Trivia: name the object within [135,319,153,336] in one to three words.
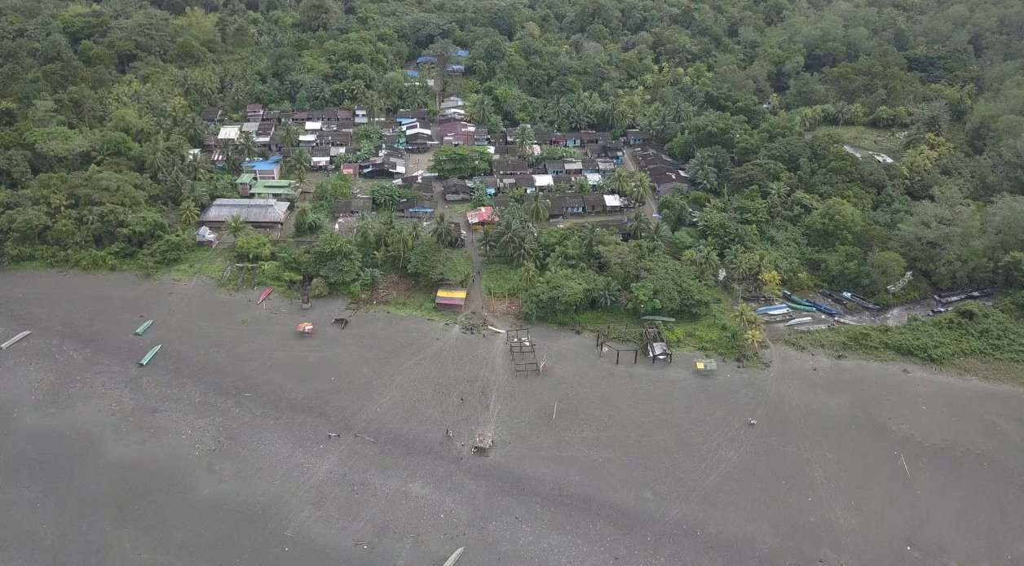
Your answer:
boat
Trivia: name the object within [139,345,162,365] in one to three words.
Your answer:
boat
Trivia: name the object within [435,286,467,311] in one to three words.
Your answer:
shed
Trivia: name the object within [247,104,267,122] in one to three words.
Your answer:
house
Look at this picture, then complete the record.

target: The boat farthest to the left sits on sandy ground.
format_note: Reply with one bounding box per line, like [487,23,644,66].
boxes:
[0,330,32,350]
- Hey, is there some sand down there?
Yes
